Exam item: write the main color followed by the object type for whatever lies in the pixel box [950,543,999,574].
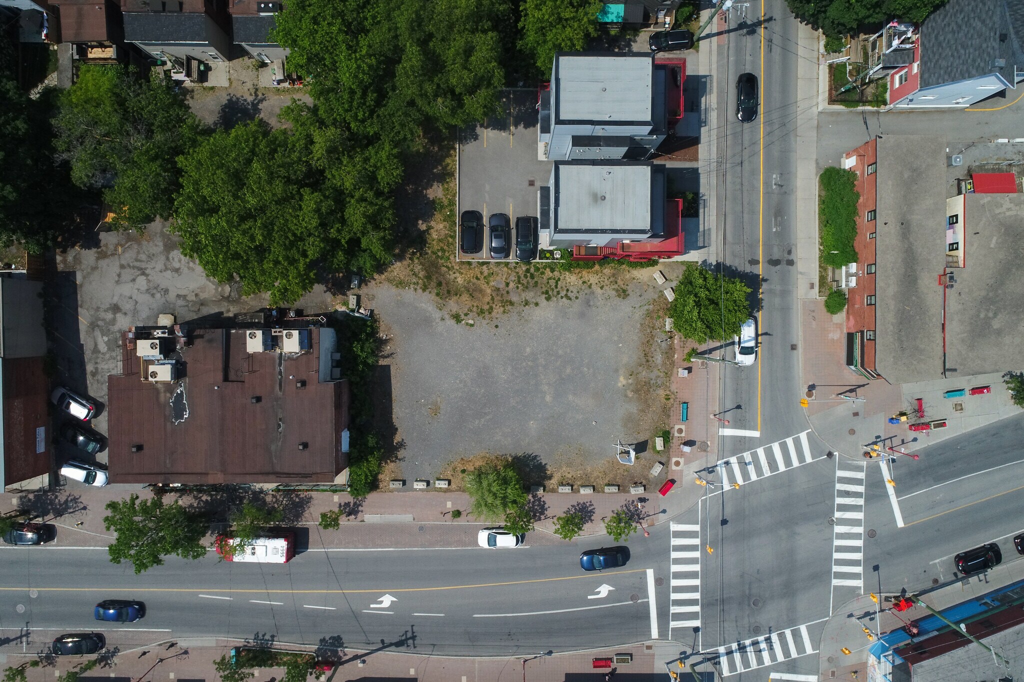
black car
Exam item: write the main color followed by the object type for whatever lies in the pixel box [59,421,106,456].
black car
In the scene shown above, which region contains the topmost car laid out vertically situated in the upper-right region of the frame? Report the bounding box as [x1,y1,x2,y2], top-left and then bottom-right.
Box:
[735,72,760,124]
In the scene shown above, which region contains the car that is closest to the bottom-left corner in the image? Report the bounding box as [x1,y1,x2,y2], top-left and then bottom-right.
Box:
[52,631,106,658]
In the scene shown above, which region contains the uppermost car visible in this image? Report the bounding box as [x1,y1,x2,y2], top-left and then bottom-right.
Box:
[647,28,695,54]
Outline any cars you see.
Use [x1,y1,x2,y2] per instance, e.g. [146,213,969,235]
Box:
[733,317,758,367]
[647,28,695,54]
[459,210,482,256]
[478,527,522,551]
[52,631,106,658]
[735,72,760,124]
[59,458,106,487]
[59,421,106,456]
[487,213,510,259]
[950,543,999,574]
[52,386,100,423]
[579,546,628,572]
[95,599,145,624]
[514,214,538,261]
[6,522,57,546]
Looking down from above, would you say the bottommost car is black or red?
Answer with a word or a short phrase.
black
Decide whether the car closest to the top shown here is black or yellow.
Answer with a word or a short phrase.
black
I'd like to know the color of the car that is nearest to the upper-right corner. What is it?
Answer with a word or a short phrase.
black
